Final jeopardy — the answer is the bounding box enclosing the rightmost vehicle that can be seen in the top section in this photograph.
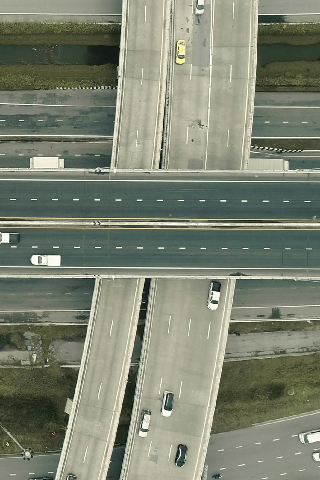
[248,157,289,172]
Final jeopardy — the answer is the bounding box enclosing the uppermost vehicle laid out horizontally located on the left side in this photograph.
[29,156,64,168]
